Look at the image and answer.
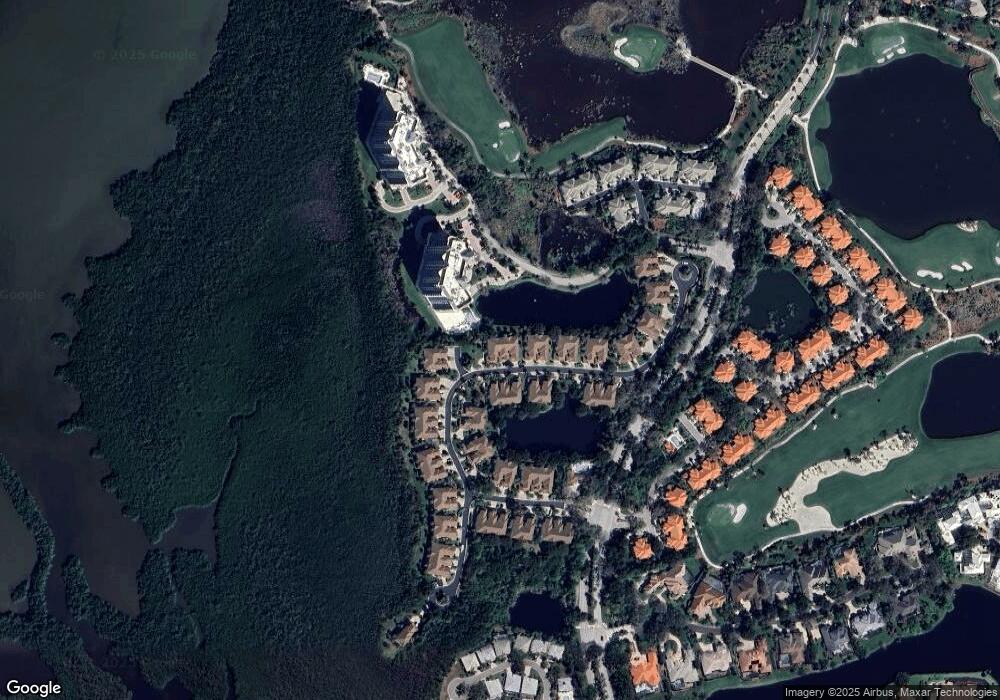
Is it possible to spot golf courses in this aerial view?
Yes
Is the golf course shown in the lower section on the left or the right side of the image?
right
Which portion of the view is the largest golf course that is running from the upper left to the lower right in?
top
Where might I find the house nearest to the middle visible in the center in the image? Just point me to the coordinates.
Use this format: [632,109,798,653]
[486,336,520,363]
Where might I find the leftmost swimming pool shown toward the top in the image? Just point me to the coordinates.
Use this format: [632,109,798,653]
[363,63,391,85]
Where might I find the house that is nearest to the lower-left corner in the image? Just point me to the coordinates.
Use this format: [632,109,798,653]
[391,616,419,647]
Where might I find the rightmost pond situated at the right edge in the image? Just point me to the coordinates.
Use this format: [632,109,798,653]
[920,351,1000,439]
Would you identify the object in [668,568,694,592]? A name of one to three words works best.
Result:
house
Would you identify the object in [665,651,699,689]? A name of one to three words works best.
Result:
house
